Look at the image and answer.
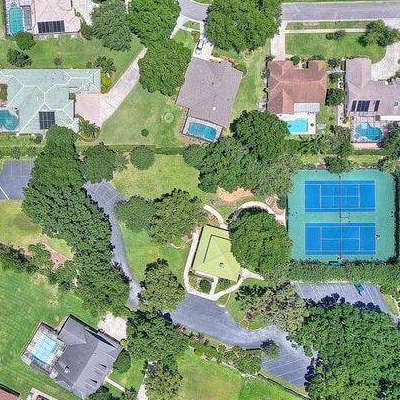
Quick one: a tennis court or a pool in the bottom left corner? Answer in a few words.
pool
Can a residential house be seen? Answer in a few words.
Yes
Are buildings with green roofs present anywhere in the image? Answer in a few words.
Yes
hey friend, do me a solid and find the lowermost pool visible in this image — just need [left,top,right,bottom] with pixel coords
[22,323,68,375]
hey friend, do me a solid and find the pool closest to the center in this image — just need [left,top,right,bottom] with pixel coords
[182,116,224,142]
